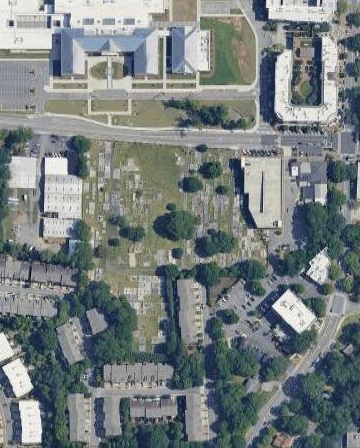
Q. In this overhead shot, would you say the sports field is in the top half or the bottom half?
top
